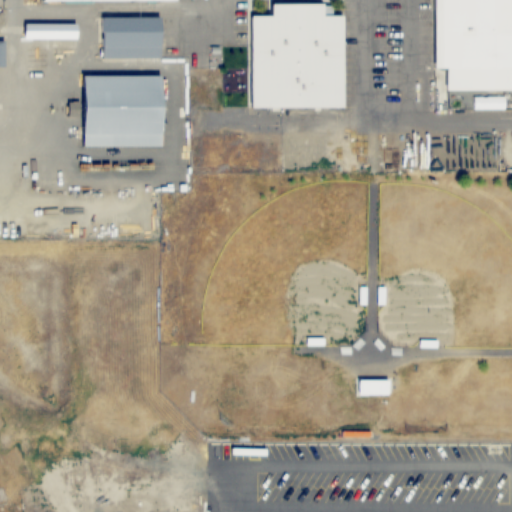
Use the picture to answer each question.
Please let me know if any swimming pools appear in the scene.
No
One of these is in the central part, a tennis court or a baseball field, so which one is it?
baseball field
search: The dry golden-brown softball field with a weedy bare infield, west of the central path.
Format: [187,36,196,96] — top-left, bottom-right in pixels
[202,182,368,346]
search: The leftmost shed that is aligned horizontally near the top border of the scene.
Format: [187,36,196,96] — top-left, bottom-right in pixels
[26,24,80,40]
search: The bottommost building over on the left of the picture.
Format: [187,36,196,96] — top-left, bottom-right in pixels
[83,75,164,146]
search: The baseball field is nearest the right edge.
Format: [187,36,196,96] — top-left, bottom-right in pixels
[379,184,512,348]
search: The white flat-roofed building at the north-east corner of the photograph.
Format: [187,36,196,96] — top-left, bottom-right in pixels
[434,0,512,92]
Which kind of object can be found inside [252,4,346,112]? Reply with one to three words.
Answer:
building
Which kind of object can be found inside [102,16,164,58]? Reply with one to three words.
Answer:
building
